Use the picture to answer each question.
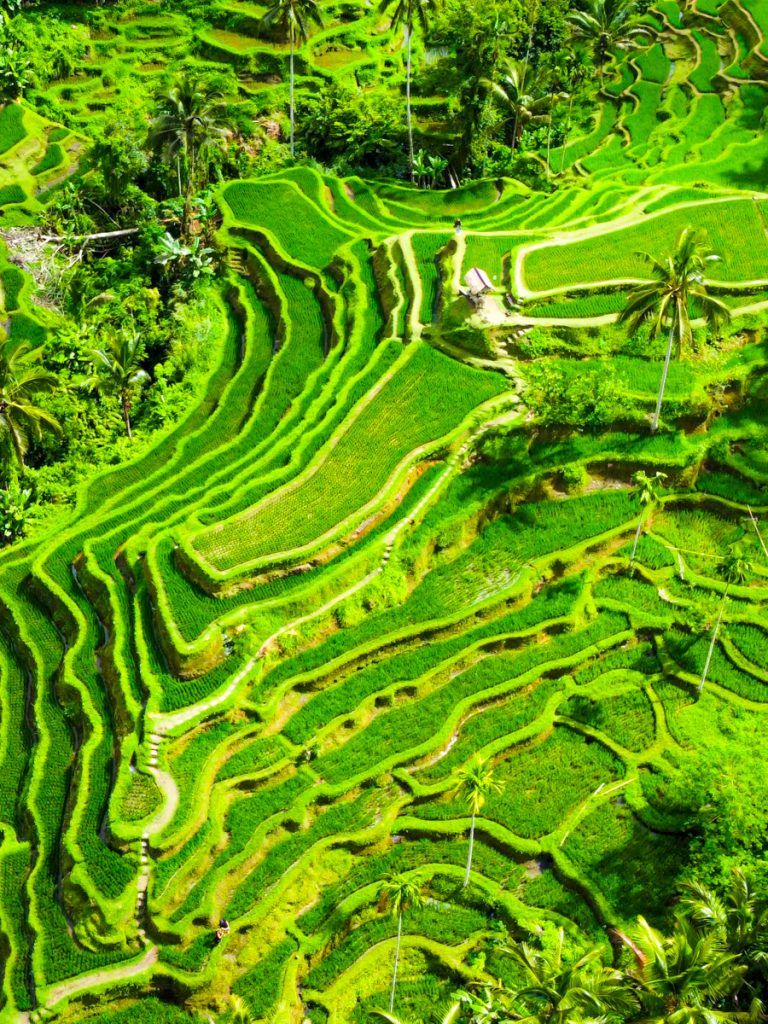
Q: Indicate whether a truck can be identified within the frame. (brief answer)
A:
No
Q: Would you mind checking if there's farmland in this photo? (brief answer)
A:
Yes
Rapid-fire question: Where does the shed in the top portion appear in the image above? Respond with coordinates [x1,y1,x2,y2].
[462,268,498,308]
